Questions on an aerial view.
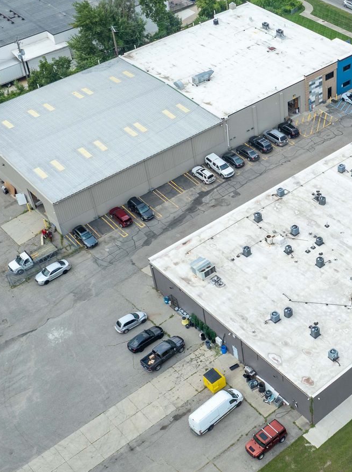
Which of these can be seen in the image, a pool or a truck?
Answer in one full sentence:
I can see a truck in this picture.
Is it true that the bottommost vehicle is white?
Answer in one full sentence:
No, the bottommost vehicle is red.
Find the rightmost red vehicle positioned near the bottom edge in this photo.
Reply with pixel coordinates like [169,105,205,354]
[245,416,290,459]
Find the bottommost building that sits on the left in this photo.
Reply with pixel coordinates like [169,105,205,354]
[0,56,231,235]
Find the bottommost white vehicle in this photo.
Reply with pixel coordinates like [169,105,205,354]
[187,387,246,435]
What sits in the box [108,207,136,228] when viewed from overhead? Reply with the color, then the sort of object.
red car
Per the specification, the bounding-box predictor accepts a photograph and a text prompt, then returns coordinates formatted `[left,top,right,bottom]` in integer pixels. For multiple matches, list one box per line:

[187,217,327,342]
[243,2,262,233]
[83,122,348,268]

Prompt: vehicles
[137,336,187,373]
[203,150,236,176]
[187,387,246,435]
[223,153,247,169]
[245,416,290,459]
[8,237,65,276]
[70,220,100,247]
[276,122,303,139]
[108,207,136,228]
[235,145,262,162]
[114,313,149,333]
[190,165,218,184]
[341,93,352,104]
[262,128,291,147]
[125,193,155,219]
[125,327,166,355]
[248,136,276,153]
[34,258,73,285]
[343,0,352,8]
